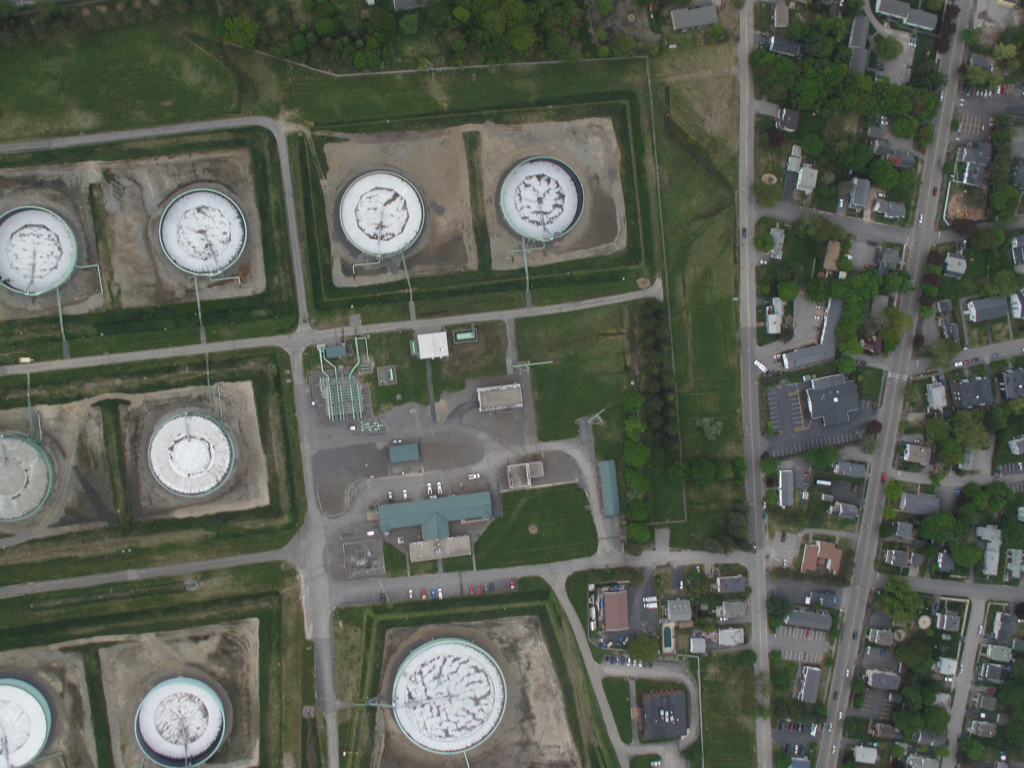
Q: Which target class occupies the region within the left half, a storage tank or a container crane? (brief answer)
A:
storage tank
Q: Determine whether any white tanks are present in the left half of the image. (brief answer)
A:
Yes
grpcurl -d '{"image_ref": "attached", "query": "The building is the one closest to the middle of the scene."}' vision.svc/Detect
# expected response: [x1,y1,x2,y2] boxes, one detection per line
[476,382,523,411]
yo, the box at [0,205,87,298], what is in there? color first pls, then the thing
white storage tank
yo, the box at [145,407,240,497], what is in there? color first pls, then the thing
white storage tank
